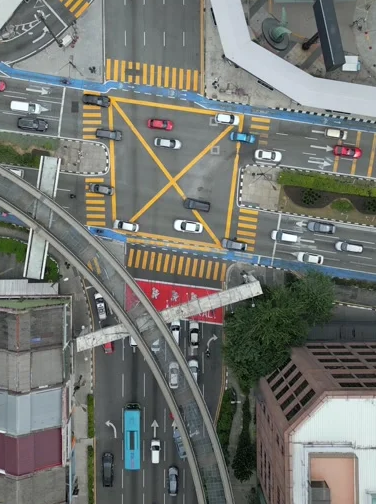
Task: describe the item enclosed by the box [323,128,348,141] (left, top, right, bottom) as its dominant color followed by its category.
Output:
white vehicle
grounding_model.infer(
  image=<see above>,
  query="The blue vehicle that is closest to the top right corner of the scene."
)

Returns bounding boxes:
[229,132,256,145]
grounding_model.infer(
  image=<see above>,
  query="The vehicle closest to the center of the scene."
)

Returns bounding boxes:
[173,219,203,233]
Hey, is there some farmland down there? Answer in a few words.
No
